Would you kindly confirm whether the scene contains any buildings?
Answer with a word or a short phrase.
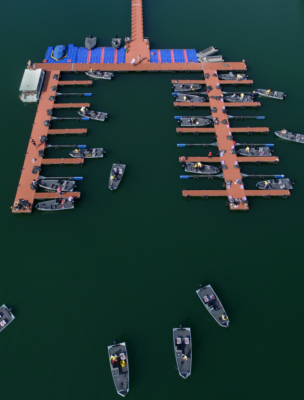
No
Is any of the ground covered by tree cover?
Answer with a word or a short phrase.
No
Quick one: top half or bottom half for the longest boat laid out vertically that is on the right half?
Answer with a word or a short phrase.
bottom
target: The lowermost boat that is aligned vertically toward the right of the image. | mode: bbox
[173,323,193,378]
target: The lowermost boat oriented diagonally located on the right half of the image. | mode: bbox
[196,283,230,326]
